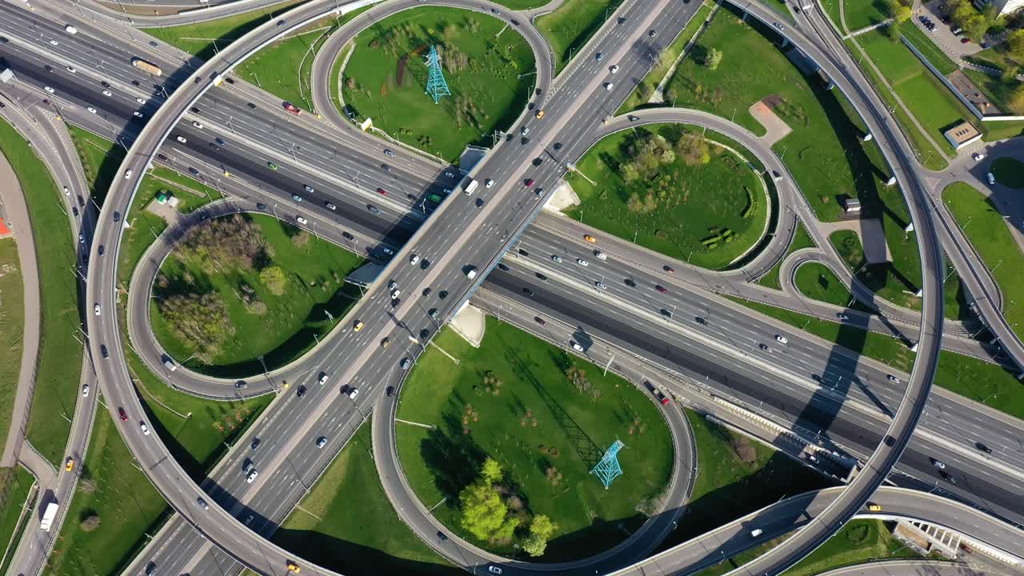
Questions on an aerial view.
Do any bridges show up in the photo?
Yes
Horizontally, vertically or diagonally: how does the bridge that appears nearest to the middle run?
diagonally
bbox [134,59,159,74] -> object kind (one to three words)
vehicle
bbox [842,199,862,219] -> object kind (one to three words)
shed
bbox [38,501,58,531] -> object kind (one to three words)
vehicle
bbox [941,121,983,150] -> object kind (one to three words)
building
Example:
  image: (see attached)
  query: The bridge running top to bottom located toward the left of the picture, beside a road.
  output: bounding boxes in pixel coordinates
[87,0,372,576]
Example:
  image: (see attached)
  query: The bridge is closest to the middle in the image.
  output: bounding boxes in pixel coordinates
[385,149,559,320]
